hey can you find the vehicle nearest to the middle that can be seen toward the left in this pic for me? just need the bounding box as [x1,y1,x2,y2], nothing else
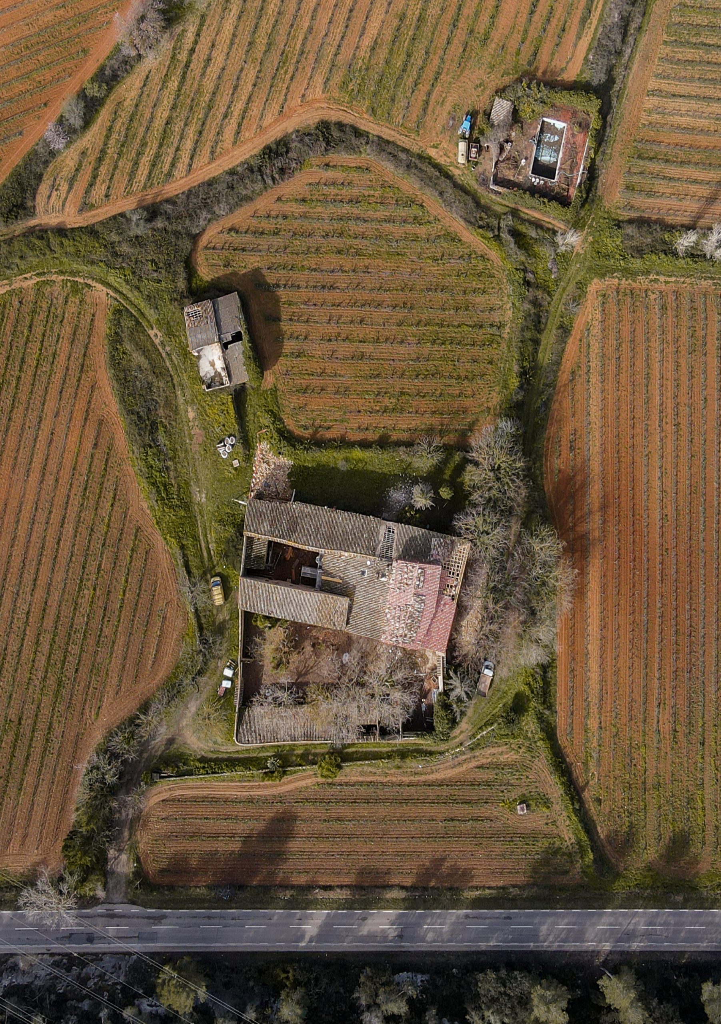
[209,576,224,607]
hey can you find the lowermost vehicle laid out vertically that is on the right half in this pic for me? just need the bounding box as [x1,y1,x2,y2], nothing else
[476,660,496,700]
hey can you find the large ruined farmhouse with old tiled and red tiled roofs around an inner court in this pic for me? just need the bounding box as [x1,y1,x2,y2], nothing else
[232,489,471,653]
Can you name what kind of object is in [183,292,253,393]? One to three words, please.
house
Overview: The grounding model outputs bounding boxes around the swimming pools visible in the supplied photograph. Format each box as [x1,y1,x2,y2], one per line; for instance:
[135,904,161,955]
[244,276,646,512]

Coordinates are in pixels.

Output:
[531,117,567,181]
